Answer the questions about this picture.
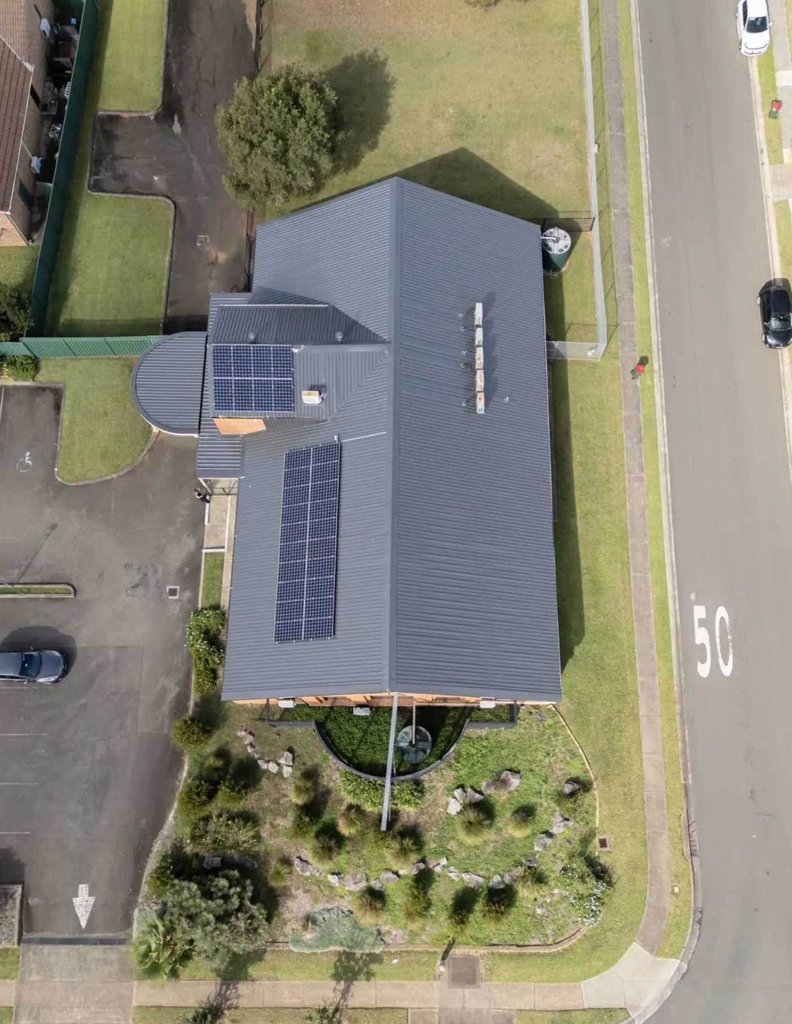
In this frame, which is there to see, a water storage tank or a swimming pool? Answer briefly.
water storage tank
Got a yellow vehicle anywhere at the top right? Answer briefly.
No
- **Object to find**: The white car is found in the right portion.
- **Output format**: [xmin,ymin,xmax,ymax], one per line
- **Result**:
[730,0,774,53]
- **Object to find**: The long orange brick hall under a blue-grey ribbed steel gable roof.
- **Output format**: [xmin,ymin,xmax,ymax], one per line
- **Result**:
[130,177,564,705]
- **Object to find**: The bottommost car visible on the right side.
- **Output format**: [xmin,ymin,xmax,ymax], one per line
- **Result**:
[754,282,792,352]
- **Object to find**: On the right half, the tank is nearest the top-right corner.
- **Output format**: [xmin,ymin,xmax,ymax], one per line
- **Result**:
[541,229,571,277]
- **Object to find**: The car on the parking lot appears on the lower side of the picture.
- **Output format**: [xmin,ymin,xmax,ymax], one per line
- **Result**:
[0,642,71,687]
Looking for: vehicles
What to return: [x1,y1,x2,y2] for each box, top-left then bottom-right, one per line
[730,0,774,53]
[0,642,71,687]
[754,282,792,352]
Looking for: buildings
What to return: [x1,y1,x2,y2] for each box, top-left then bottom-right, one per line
[0,0,56,246]
[130,177,564,705]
